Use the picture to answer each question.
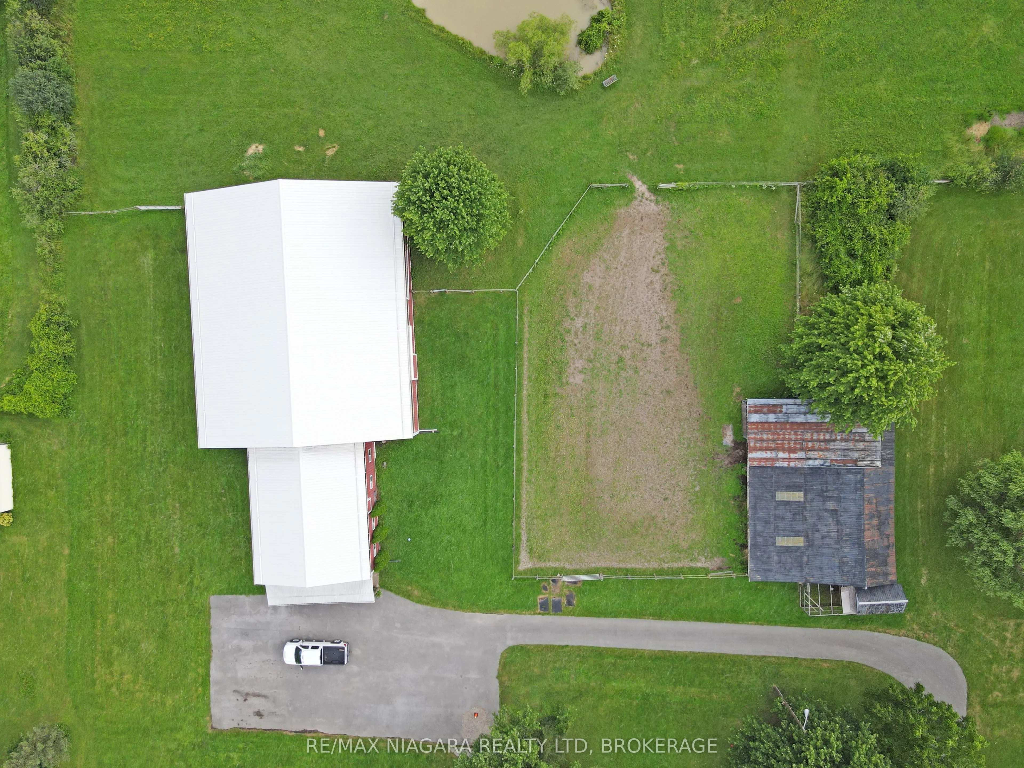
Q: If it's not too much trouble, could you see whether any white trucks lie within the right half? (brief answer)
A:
No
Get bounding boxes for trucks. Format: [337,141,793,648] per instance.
[284,639,352,669]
